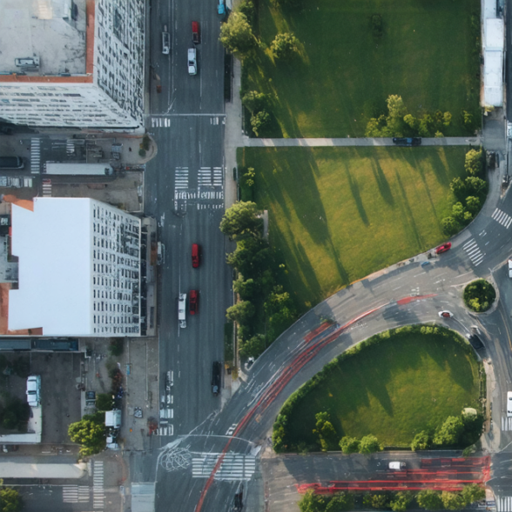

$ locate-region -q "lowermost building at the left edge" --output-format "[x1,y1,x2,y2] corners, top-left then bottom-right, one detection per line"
[0,196,155,337]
